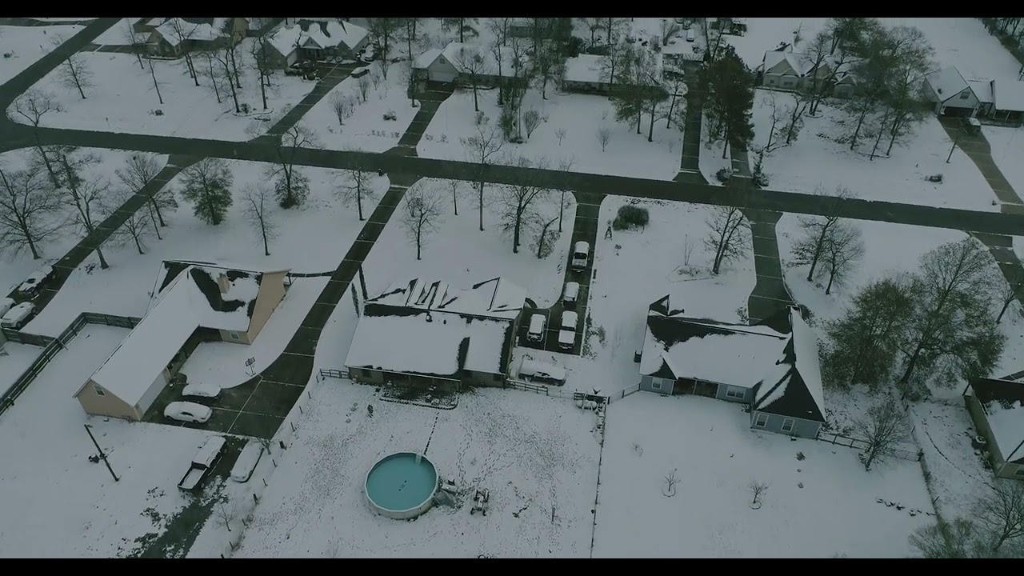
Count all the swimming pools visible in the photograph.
1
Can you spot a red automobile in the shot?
No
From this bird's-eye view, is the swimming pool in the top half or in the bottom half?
bottom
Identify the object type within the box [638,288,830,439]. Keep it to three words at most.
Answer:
house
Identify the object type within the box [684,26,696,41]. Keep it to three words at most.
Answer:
vehicle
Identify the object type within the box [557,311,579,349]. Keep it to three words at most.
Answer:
truck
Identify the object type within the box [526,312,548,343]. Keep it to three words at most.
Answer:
car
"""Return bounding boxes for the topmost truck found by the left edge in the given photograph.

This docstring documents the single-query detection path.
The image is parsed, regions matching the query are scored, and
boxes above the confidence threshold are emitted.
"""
[16,264,62,299]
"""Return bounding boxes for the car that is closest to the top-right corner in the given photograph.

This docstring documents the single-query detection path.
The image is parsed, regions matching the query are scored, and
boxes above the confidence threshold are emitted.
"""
[963,115,980,134]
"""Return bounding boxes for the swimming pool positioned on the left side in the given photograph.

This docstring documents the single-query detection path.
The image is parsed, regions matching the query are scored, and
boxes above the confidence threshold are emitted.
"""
[362,454,438,531]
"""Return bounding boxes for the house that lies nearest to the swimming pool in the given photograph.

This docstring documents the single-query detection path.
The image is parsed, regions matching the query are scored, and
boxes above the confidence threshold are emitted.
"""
[340,277,526,396]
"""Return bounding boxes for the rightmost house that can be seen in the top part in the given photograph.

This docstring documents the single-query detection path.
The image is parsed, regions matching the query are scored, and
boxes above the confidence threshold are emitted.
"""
[926,61,1024,126]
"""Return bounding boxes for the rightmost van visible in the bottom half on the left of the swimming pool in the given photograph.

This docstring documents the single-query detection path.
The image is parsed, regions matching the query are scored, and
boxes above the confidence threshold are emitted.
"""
[228,436,269,486]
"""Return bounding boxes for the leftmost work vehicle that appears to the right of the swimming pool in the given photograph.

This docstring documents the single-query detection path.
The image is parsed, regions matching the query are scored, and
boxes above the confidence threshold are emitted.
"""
[467,481,492,515]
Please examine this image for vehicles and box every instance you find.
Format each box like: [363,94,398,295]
[0,298,40,329]
[517,364,569,387]
[171,433,231,492]
[349,66,372,81]
[526,312,548,343]
[467,481,492,515]
[161,402,214,426]
[228,436,269,486]
[176,380,227,401]
[361,48,376,63]
[16,264,62,299]
[684,26,696,41]
[963,115,980,134]
[0,295,22,316]
[562,280,580,307]
[557,311,579,349]
[570,238,590,269]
